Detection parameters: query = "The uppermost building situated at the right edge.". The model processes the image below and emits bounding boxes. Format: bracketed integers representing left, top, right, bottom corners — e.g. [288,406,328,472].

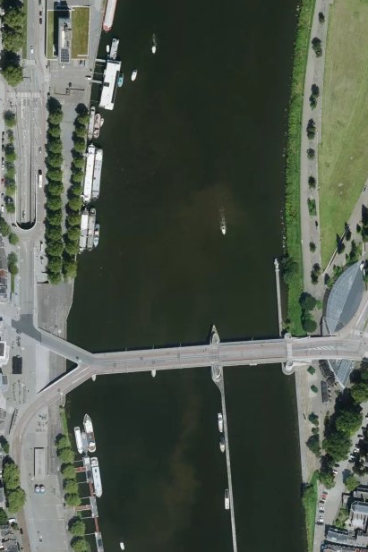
[323,260,364,336]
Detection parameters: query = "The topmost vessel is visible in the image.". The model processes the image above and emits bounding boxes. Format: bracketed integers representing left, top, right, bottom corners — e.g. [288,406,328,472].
[104,0,117,32]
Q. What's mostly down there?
water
